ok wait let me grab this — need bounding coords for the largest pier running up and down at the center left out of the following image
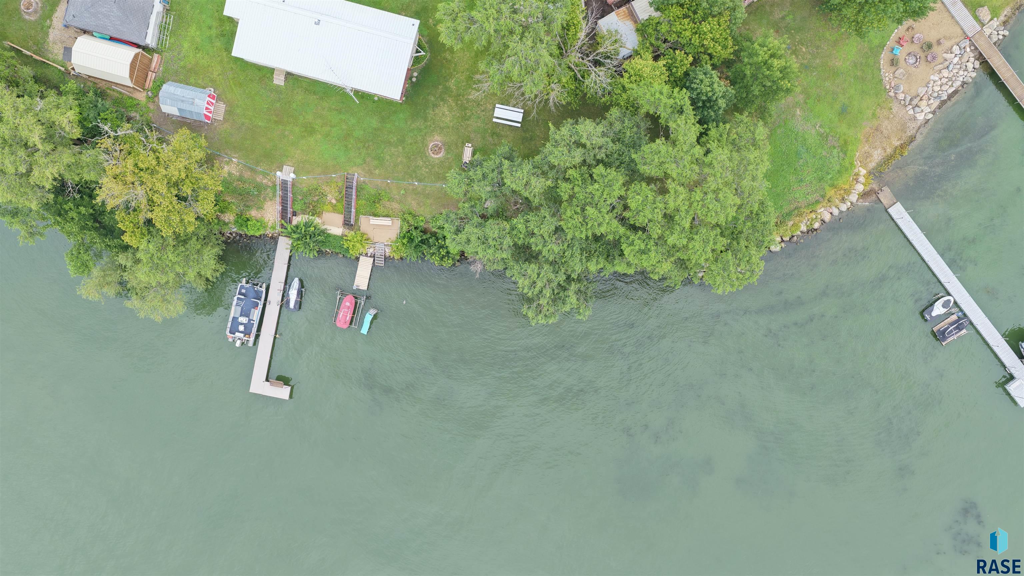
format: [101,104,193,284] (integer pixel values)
[249,236,293,400]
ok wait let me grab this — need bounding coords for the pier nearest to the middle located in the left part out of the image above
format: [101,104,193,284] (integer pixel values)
[355,256,374,290]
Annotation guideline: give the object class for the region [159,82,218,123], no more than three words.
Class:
building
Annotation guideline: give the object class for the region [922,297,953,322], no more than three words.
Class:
vessel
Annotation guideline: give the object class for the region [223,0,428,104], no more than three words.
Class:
house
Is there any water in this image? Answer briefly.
Yes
